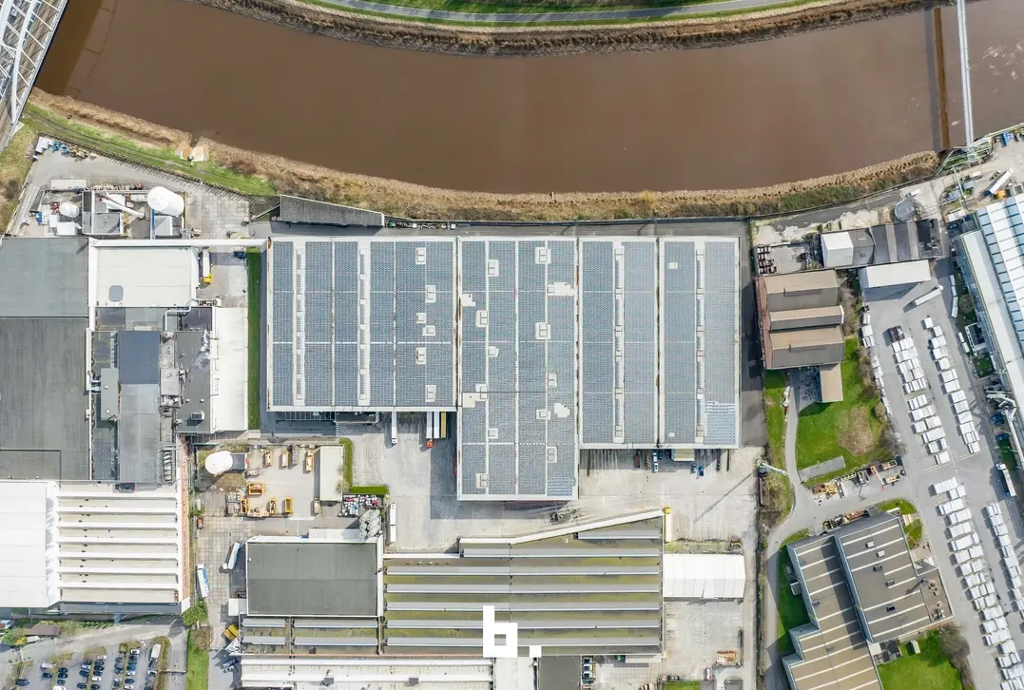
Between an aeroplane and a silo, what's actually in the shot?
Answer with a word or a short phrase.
silo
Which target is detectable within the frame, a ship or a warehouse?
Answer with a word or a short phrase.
warehouse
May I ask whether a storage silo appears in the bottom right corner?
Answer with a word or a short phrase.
No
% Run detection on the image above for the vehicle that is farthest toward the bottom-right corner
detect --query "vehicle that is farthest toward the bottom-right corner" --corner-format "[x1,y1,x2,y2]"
[992,465,1019,498]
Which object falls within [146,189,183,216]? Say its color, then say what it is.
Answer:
white silo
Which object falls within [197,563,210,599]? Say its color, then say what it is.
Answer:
white vehicle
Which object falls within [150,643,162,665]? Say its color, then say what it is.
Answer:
white vehicle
